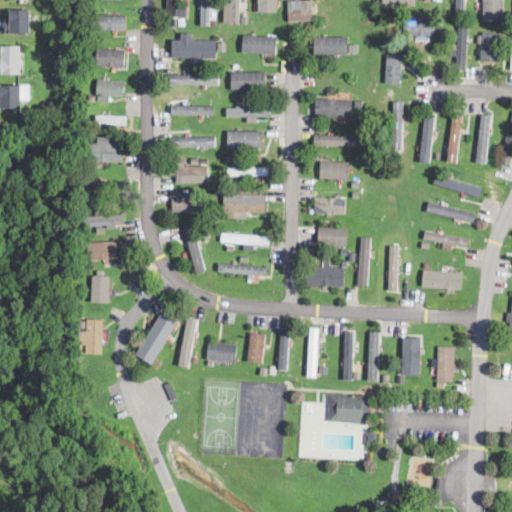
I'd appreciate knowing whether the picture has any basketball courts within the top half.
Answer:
No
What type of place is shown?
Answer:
residential area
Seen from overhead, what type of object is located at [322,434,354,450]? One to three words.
swimming pool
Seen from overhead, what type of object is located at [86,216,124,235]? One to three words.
house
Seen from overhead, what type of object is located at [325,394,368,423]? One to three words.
building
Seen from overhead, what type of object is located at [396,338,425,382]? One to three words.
house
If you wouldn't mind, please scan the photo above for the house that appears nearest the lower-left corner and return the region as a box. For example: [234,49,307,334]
[79,320,108,356]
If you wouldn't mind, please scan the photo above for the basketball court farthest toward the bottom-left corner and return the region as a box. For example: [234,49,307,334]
[203,380,240,454]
